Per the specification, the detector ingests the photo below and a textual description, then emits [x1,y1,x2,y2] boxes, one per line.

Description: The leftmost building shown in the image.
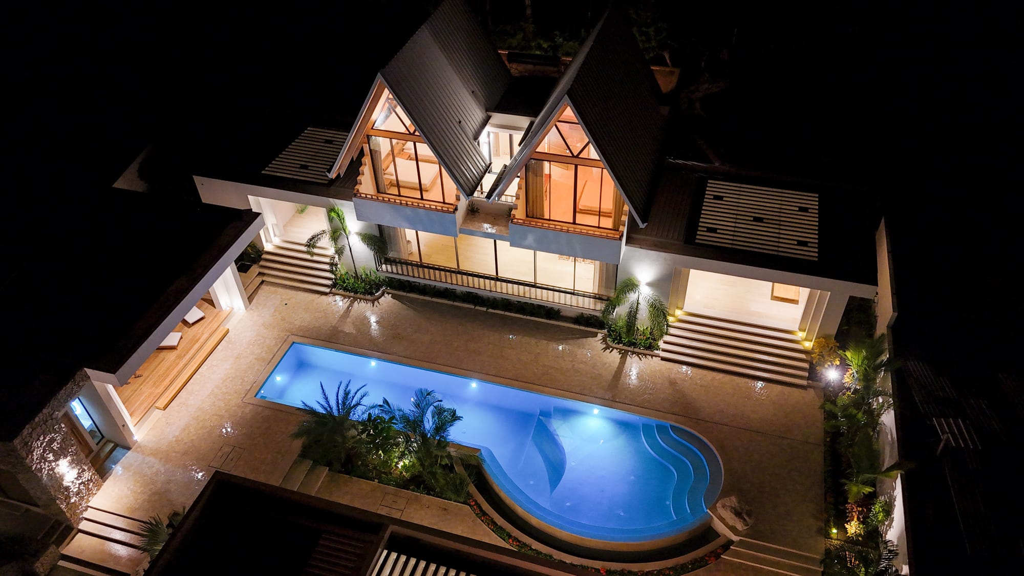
[0,176,265,539]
